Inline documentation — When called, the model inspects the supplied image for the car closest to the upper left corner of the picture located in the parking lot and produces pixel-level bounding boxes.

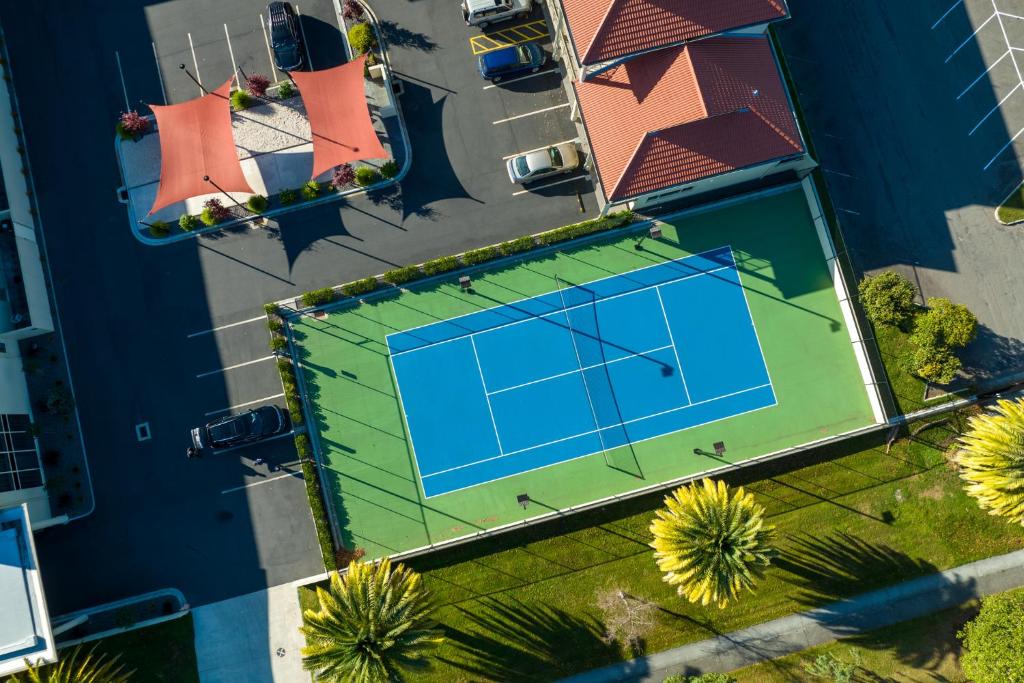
[262,0,306,76]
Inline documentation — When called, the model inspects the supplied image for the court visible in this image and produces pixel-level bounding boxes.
[295,183,878,564]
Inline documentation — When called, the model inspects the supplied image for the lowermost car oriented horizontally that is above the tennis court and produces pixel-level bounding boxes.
[506,142,580,184]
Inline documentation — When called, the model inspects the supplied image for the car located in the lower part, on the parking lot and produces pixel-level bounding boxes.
[192,403,293,450]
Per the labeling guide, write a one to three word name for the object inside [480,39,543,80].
car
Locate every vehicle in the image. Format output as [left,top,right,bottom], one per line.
[462,0,537,27]
[262,0,306,76]
[480,39,543,80]
[192,403,293,450]
[506,142,580,184]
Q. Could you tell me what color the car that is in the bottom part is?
black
